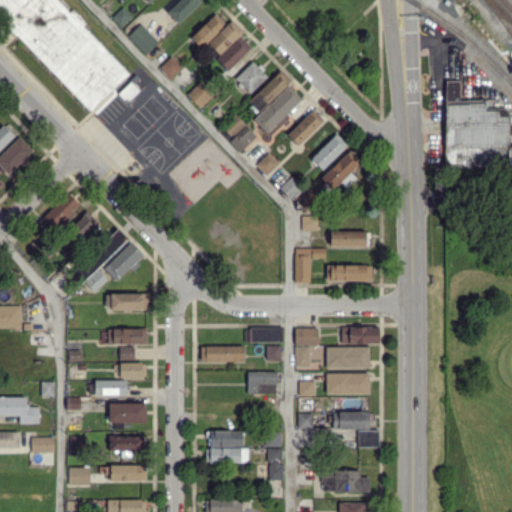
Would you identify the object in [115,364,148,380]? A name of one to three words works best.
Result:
house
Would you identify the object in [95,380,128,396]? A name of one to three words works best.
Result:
building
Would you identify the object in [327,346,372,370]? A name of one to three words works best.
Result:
house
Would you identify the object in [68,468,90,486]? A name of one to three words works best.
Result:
building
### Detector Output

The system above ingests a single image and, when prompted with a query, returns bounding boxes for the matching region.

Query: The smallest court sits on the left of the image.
[123,95,168,140]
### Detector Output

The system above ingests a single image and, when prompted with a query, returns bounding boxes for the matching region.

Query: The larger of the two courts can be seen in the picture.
[138,112,201,173]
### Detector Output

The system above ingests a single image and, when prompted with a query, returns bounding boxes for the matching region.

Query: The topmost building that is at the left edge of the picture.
[0,0,128,116]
